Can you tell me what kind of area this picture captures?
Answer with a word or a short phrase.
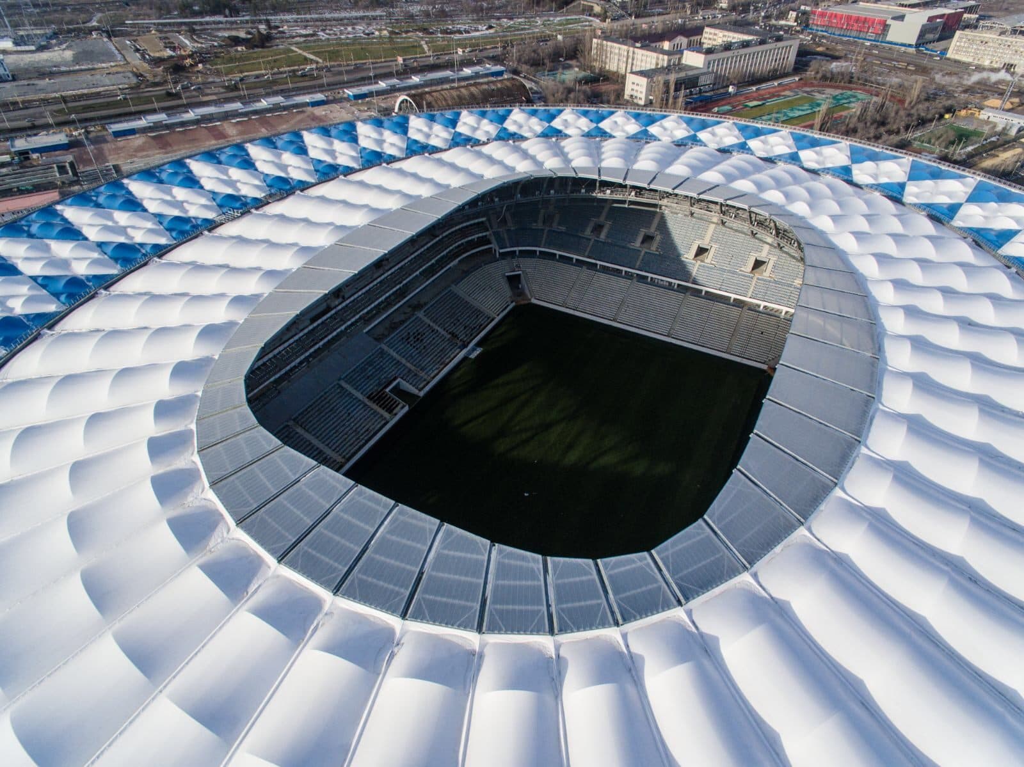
sports ground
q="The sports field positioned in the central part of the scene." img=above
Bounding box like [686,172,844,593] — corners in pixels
[281,299,770,610]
